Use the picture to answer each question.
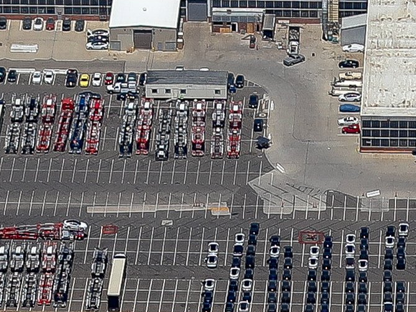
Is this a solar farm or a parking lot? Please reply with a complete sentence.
What you see here is a parking lot.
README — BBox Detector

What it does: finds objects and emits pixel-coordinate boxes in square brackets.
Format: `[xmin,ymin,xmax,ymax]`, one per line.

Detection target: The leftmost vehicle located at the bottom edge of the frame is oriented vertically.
[107,252,126,309]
